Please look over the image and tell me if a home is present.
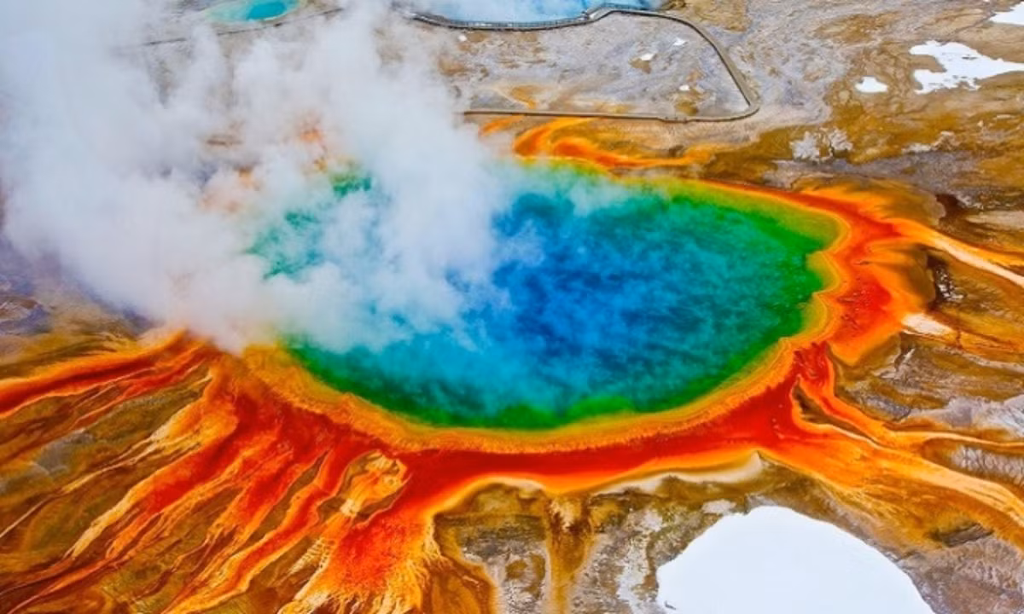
No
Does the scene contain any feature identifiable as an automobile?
No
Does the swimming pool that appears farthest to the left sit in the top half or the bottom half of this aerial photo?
top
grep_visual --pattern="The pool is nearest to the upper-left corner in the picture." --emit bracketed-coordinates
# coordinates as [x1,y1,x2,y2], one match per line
[201,0,301,23]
